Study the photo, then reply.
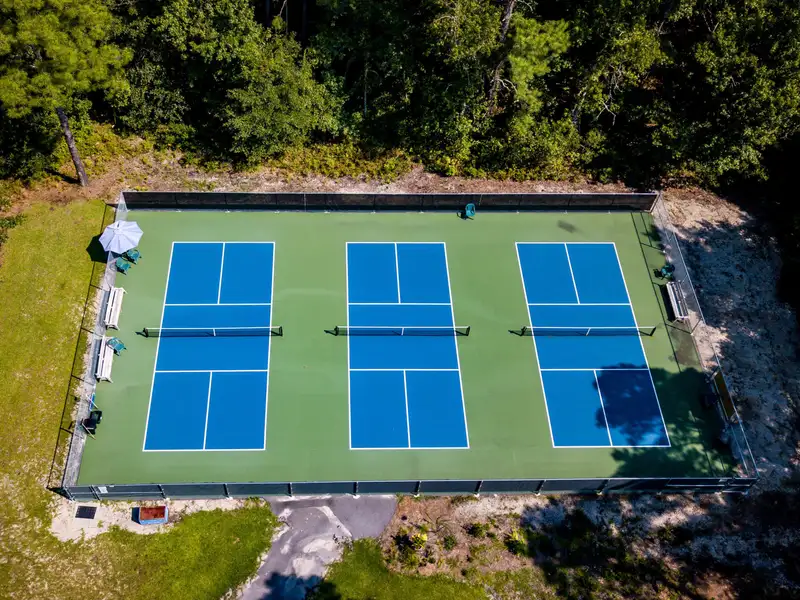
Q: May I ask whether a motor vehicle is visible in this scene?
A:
No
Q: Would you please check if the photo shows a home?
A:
No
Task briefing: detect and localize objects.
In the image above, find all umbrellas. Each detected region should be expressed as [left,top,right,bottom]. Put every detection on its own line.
[99,222,143,262]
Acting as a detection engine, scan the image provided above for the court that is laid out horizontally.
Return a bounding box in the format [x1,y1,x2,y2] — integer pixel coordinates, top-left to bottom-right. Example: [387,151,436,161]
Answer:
[73,210,743,502]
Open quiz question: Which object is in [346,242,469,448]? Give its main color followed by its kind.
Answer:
blue sports court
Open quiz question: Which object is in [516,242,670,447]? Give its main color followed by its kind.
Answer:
blue sports court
